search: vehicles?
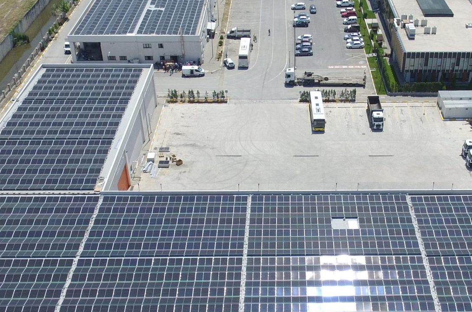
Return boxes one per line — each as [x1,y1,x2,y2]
[346,36,364,43]
[293,21,309,27]
[178,63,206,76]
[367,98,386,128]
[291,1,307,9]
[343,31,362,38]
[309,5,316,13]
[295,42,313,50]
[224,59,235,69]
[59,37,71,54]
[336,0,354,6]
[296,38,313,44]
[339,6,355,12]
[341,15,359,24]
[341,10,356,17]
[239,39,252,65]
[294,16,311,23]
[308,89,324,126]
[294,48,313,56]
[294,12,310,18]
[343,23,361,31]
[297,33,313,40]
[228,26,250,38]
[284,71,366,90]
[346,41,365,49]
